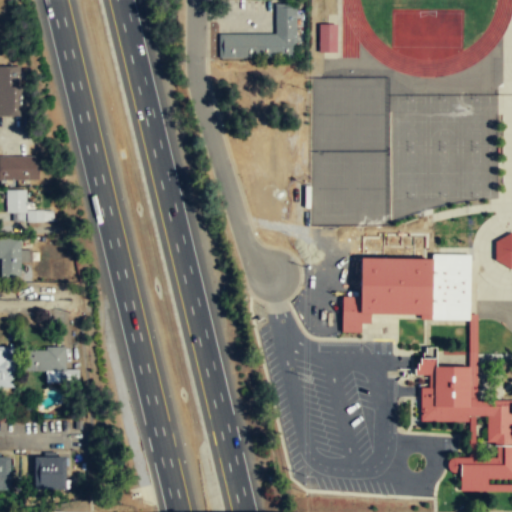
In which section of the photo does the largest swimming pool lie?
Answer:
bottom left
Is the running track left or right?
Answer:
right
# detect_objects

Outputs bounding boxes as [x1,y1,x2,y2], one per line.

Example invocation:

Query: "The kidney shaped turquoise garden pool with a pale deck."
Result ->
[38,388,62,413]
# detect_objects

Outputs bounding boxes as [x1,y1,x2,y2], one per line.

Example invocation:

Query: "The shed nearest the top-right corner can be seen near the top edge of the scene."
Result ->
[320,24,338,52]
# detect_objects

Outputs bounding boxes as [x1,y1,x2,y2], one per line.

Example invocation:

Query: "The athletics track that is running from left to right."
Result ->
[343,0,504,77]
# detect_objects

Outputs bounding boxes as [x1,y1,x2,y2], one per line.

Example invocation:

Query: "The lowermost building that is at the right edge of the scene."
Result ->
[450,448,512,492]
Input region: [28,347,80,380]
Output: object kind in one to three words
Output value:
house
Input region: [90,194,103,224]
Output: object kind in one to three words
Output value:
vehicle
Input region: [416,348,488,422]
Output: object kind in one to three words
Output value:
building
